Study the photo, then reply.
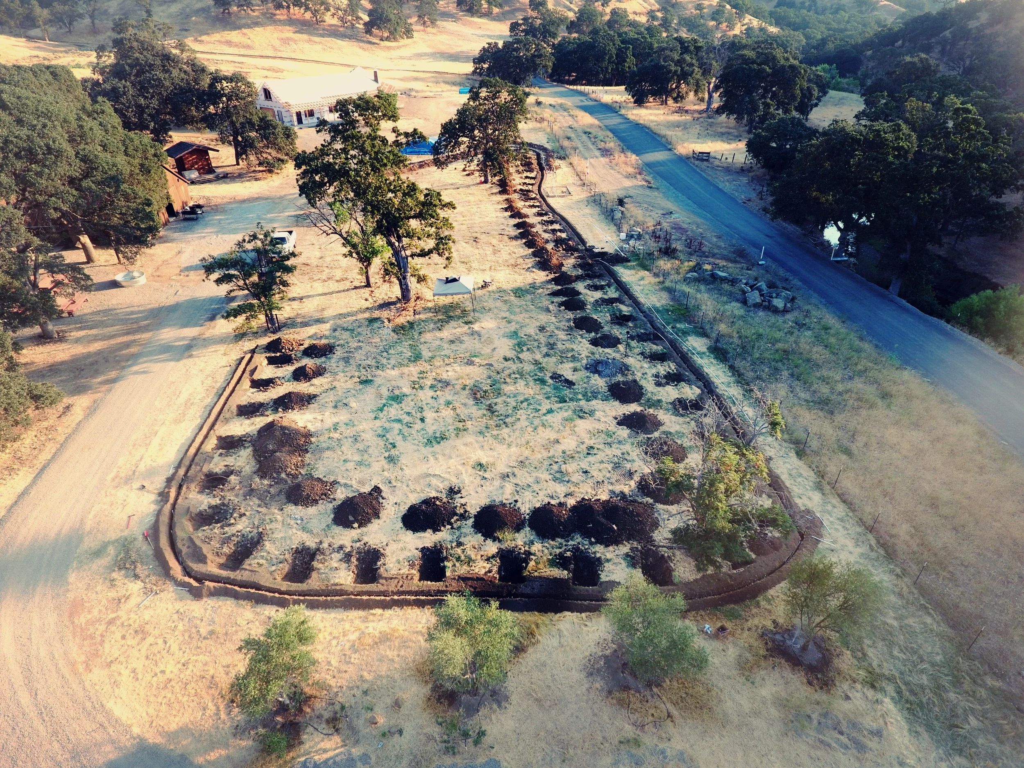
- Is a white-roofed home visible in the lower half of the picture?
No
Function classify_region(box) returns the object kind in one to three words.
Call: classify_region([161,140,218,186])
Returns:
building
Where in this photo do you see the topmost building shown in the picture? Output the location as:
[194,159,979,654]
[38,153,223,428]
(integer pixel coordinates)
[260,39,390,128]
